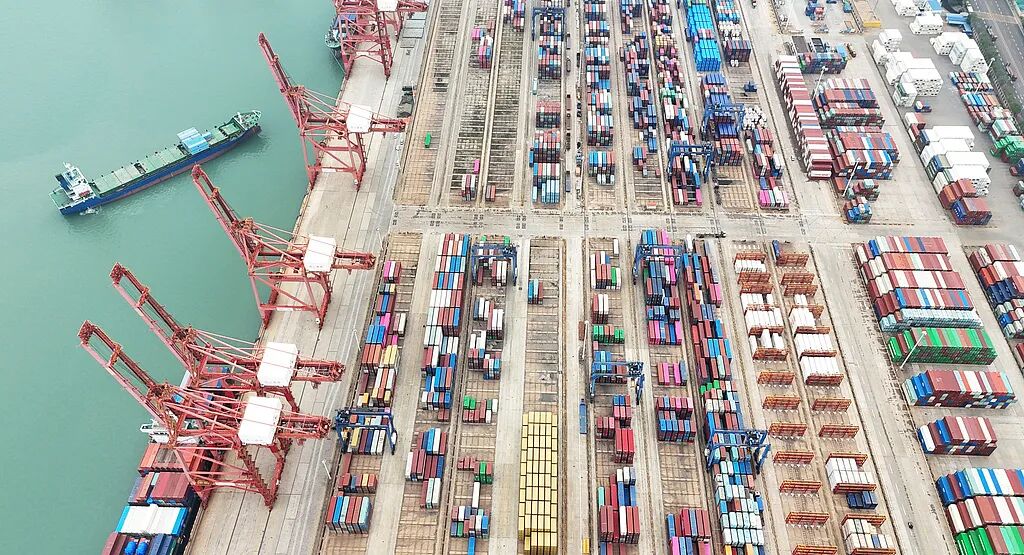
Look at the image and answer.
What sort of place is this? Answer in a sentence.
The area seen from above is a port.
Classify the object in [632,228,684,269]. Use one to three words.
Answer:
container crane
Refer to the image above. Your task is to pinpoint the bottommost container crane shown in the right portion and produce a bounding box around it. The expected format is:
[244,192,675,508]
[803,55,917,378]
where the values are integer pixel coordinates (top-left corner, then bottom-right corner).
[702,426,770,472]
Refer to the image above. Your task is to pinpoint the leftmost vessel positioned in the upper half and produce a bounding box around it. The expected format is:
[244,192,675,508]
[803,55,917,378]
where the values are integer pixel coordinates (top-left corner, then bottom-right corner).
[52,110,265,217]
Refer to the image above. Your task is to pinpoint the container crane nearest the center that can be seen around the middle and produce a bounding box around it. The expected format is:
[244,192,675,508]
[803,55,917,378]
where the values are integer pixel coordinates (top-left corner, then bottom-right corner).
[470,242,516,283]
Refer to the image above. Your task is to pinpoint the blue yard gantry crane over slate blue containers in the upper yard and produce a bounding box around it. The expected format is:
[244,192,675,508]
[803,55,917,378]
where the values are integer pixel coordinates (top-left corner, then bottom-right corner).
[698,92,743,129]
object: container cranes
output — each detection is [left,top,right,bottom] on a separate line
[632,228,684,269]
[533,6,565,40]
[355,4,405,42]
[470,242,516,283]
[330,0,432,80]
[75,322,331,513]
[332,407,396,453]
[589,358,644,402]
[702,426,770,472]
[110,260,345,455]
[192,163,378,331]
[666,139,712,178]
[260,31,409,192]
[698,92,743,129]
